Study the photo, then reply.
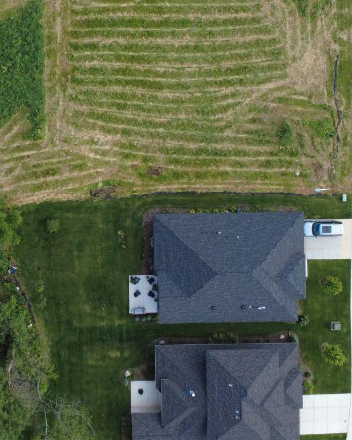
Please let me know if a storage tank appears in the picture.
No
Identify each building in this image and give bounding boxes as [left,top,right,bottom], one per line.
[153,212,308,324]
[131,342,302,440]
